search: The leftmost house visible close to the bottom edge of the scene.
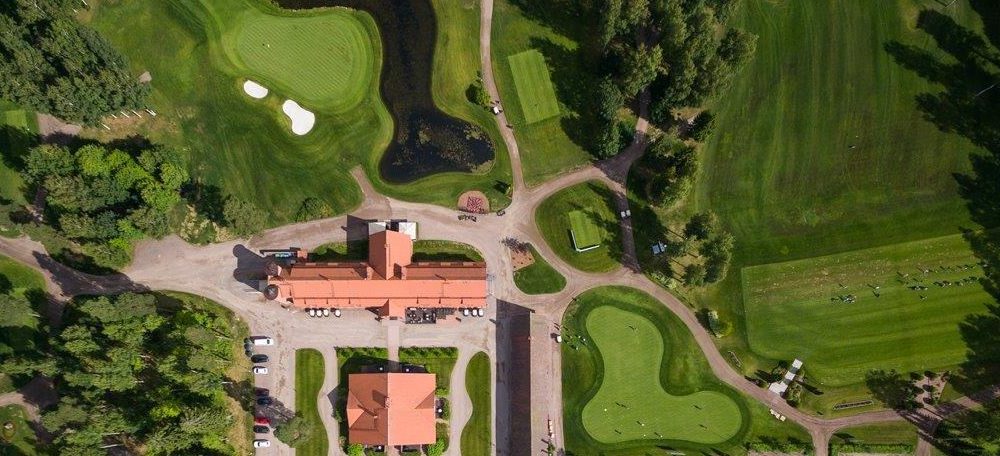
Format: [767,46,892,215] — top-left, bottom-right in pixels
[347,374,438,447]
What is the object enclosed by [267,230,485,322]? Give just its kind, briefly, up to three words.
building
